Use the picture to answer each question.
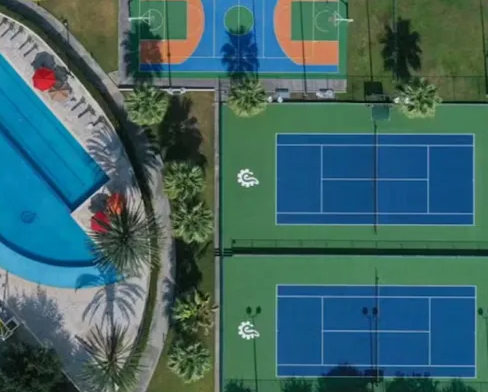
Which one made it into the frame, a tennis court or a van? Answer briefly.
tennis court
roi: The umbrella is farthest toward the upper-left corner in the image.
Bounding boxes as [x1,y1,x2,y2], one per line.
[32,67,56,91]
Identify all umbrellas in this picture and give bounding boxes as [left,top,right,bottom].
[32,67,56,91]
[91,212,110,231]
[49,84,68,103]
[107,194,125,212]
